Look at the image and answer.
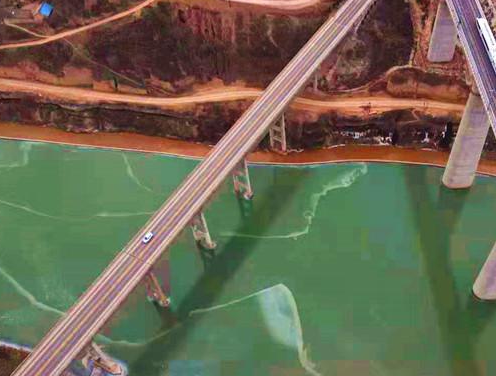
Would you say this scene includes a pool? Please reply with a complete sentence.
No, I can see no pool in this picture.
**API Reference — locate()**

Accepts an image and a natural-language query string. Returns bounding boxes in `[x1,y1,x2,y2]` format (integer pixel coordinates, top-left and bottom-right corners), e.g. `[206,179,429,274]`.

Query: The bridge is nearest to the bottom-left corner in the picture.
[11,0,375,376]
